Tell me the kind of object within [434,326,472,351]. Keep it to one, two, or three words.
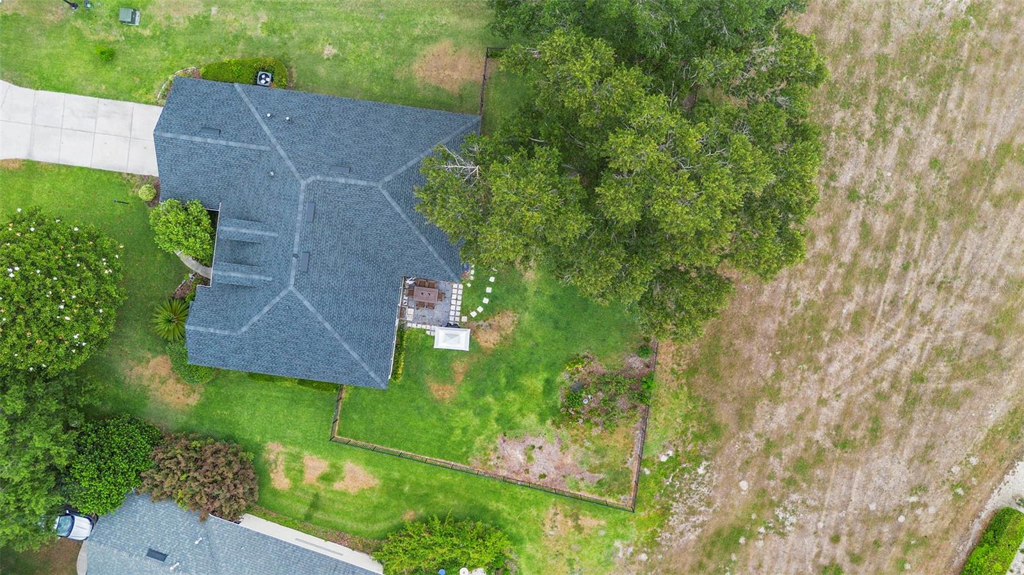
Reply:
gazebo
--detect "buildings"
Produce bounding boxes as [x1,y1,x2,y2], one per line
[87,490,385,575]
[155,76,482,391]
